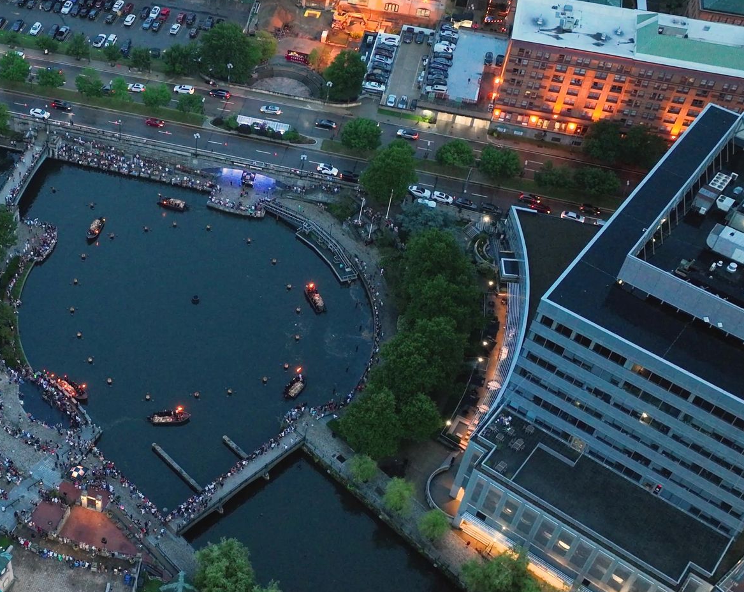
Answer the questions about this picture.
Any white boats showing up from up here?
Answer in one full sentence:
No, I find no white boat anywhere in the image.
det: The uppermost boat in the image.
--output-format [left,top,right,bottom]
[158,191,190,210]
